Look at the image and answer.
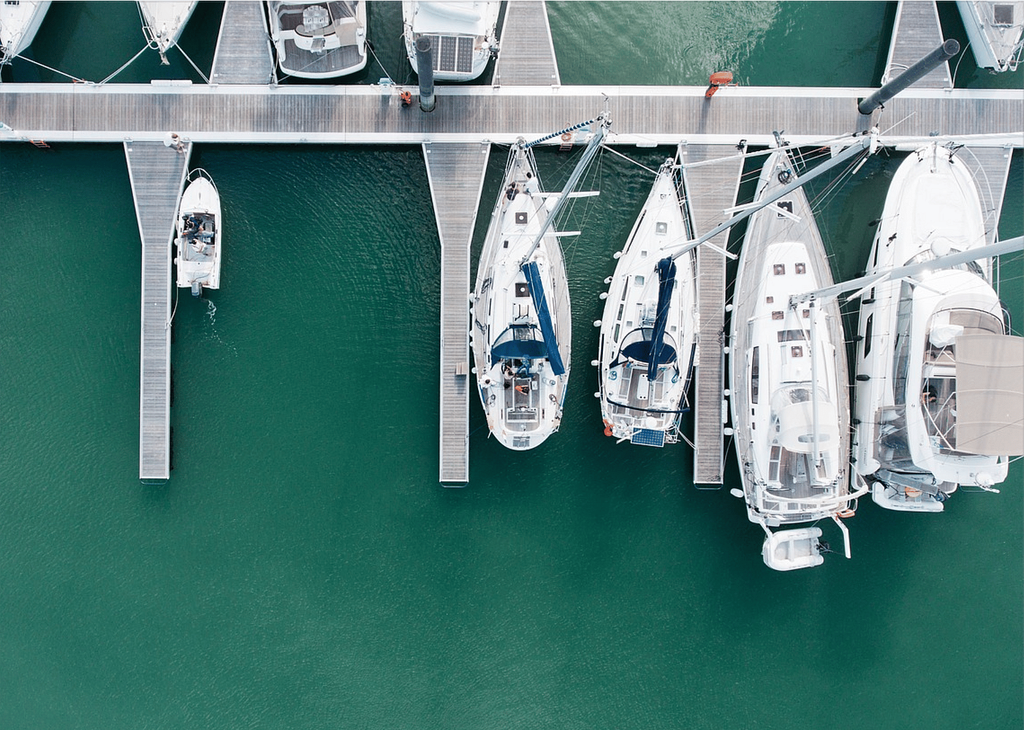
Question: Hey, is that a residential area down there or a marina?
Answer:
marina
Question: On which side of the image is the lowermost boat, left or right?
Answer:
right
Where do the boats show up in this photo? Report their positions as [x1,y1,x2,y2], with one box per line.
[725,126,1024,558]
[603,105,896,447]
[0,0,54,61]
[875,475,951,511]
[138,0,202,62]
[176,168,224,296]
[400,0,499,86]
[763,533,832,570]
[848,145,1024,495]
[472,86,624,450]
[270,0,369,82]
[955,0,1024,75]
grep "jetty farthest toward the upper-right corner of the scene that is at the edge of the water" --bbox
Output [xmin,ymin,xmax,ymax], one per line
[879,0,957,89]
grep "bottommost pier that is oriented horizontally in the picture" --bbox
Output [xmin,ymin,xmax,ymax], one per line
[0,83,1024,150]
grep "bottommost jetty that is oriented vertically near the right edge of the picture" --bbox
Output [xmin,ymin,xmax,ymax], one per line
[948,145,1015,301]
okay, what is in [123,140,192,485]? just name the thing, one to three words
pier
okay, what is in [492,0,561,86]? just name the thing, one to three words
pier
